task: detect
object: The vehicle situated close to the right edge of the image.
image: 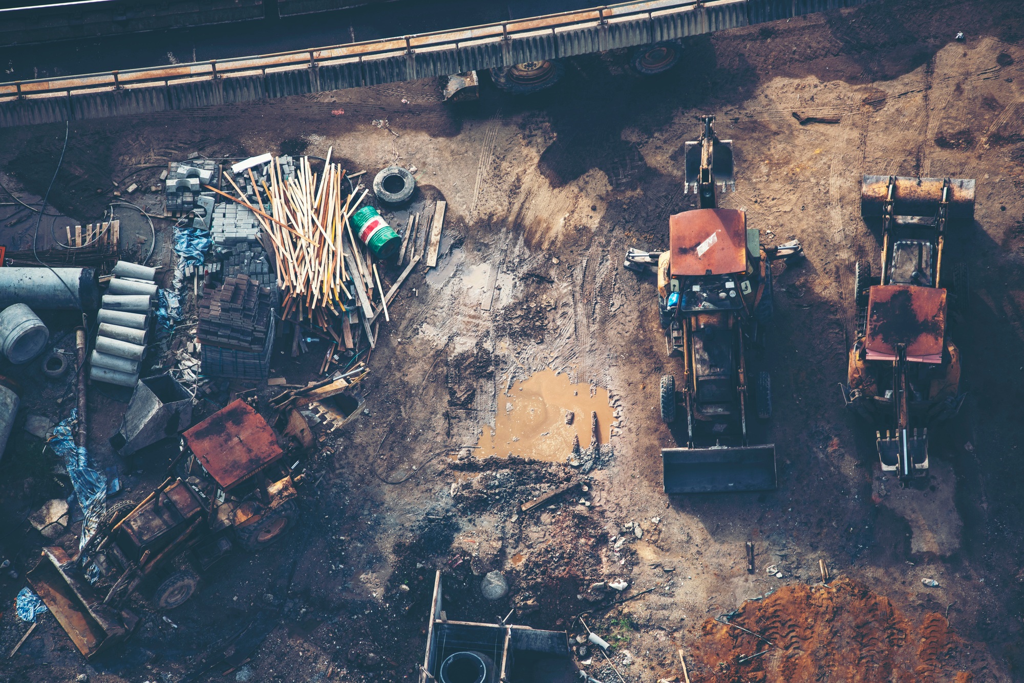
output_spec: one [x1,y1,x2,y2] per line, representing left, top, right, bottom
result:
[836,178,976,494]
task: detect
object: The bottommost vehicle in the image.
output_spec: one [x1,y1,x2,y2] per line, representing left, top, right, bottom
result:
[27,369,365,667]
